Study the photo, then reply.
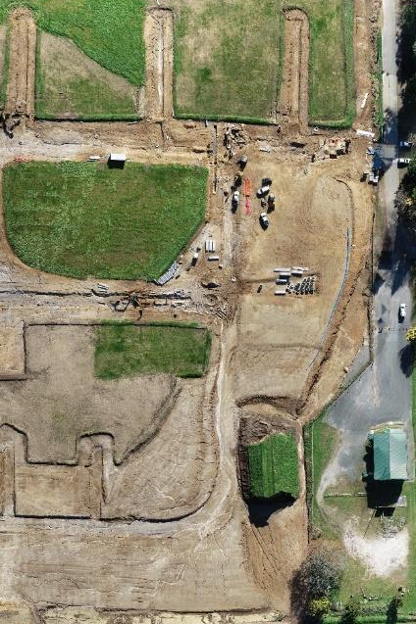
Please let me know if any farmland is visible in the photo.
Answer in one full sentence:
Yes, the picture does contain farmland.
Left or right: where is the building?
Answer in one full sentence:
You can find the building on the right side of the picture.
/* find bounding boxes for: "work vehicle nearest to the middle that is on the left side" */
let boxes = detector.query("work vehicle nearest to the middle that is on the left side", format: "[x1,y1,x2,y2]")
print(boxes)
[127,289,144,309]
